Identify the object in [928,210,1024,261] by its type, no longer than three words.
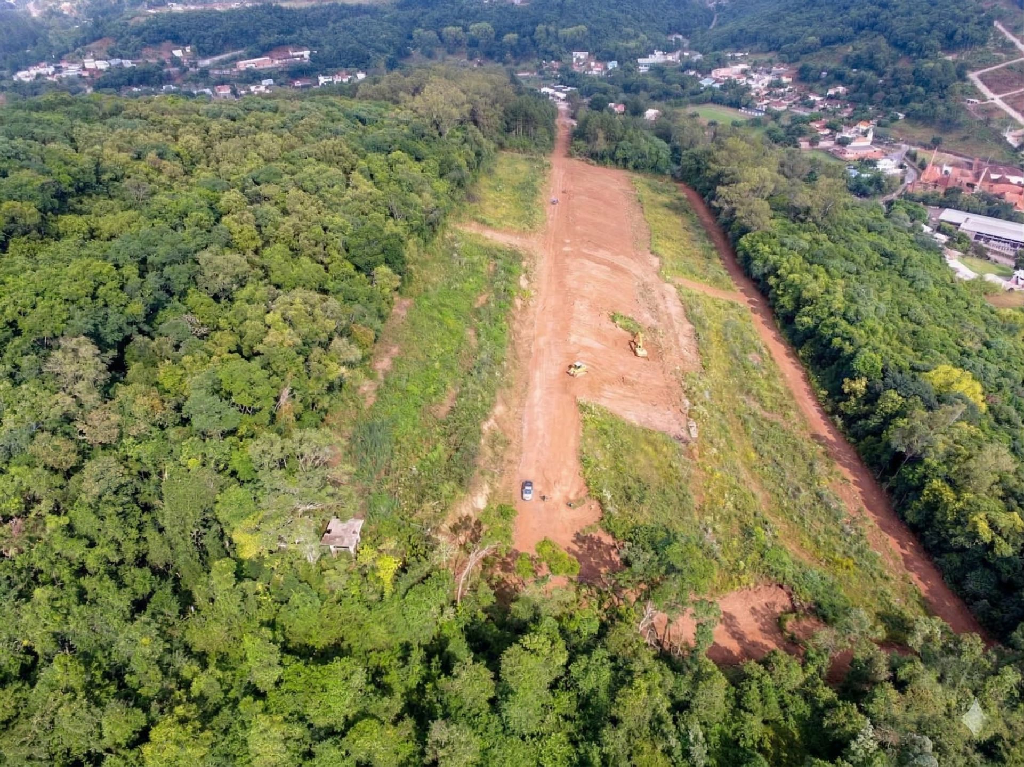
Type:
building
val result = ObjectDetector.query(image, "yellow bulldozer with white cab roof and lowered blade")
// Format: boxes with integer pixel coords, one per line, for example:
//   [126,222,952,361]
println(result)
[563,360,588,380]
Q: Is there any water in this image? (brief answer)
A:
No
